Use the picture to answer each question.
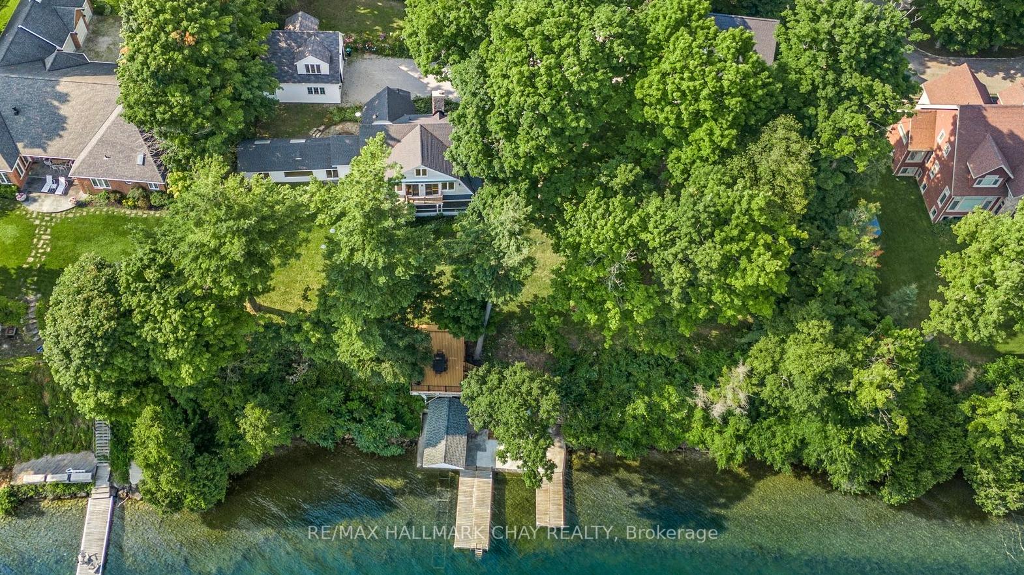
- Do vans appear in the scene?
No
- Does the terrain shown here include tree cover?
Yes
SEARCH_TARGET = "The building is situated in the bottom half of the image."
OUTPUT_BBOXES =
[423,399,468,470]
